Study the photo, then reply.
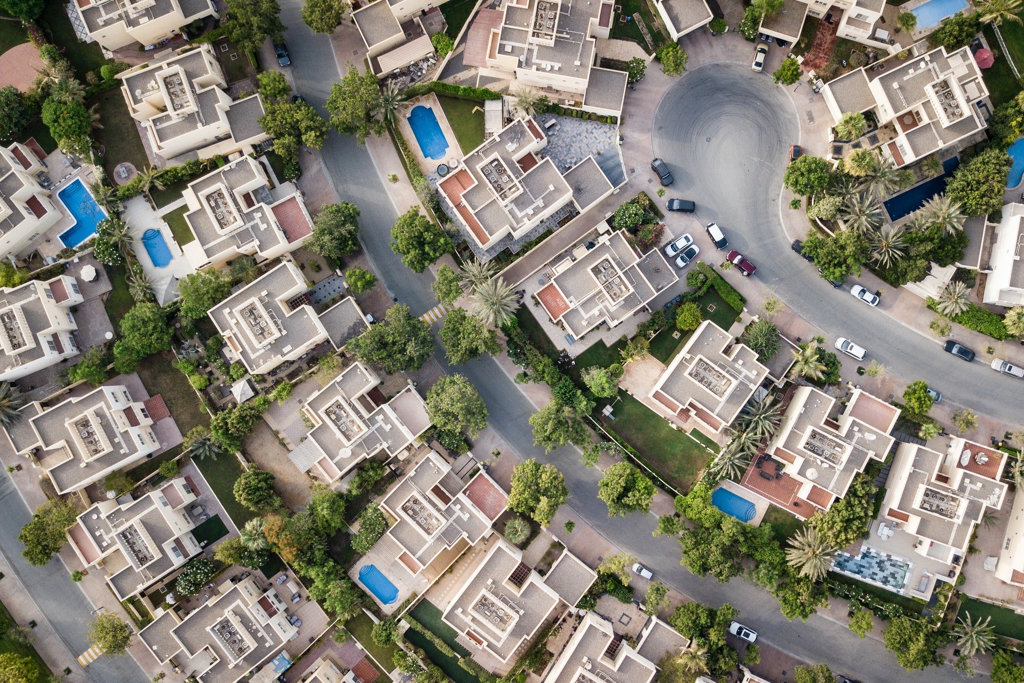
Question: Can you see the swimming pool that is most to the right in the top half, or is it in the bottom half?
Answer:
top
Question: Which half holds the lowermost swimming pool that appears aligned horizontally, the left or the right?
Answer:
right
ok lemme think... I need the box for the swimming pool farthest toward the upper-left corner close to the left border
[48,169,118,256]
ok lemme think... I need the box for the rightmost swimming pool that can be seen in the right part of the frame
[1002,132,1024,194]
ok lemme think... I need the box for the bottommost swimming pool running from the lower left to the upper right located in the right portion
[879,152,965,227]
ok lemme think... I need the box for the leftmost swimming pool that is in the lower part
[354,560,404,610]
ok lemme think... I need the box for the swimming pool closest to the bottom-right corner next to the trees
[826,544,917,597]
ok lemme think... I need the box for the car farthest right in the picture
[989,358,1024,380]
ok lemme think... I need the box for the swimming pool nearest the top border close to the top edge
[908,0,974,34]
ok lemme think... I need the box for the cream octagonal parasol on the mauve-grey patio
[80,265,99,281]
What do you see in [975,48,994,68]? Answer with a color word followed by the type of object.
red umbrella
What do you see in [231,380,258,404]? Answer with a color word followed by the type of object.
white gazebo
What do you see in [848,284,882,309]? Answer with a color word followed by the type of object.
white car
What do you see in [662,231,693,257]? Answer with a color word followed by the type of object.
white car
